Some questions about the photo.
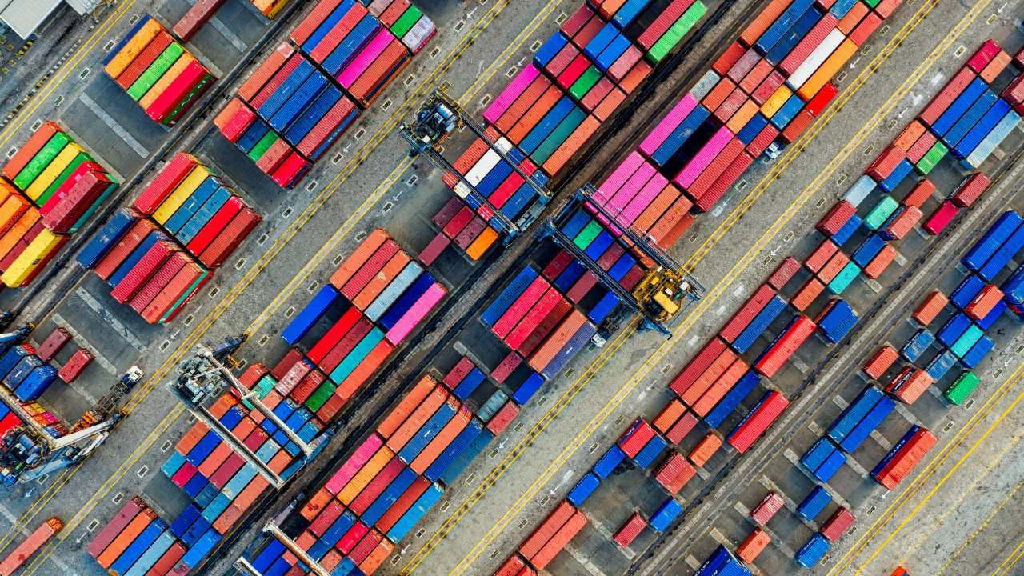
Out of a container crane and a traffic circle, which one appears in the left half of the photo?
container crane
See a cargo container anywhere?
Yes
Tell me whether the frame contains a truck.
Yes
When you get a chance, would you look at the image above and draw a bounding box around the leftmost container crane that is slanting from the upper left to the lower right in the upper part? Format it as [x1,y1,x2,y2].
[399,86,556,250]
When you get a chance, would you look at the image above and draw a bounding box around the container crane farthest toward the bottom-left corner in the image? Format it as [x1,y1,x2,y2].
[0,380,127,482]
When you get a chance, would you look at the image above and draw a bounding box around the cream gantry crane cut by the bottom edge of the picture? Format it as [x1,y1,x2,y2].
[230,482,334,576]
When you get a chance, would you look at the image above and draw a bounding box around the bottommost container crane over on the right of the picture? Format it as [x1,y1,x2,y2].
[533,183,706,341]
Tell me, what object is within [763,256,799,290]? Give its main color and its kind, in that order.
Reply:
red shipping container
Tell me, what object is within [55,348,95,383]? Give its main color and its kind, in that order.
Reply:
red shipping container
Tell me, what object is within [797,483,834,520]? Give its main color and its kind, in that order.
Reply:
blue shipping container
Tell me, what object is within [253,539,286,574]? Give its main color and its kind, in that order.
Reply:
blue shipping container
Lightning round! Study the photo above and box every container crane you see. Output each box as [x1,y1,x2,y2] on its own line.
[399,86,556,250]
[533,183,706,341]
[162,325,350,489]
[230,482,334,576]
[0,380,127,482]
